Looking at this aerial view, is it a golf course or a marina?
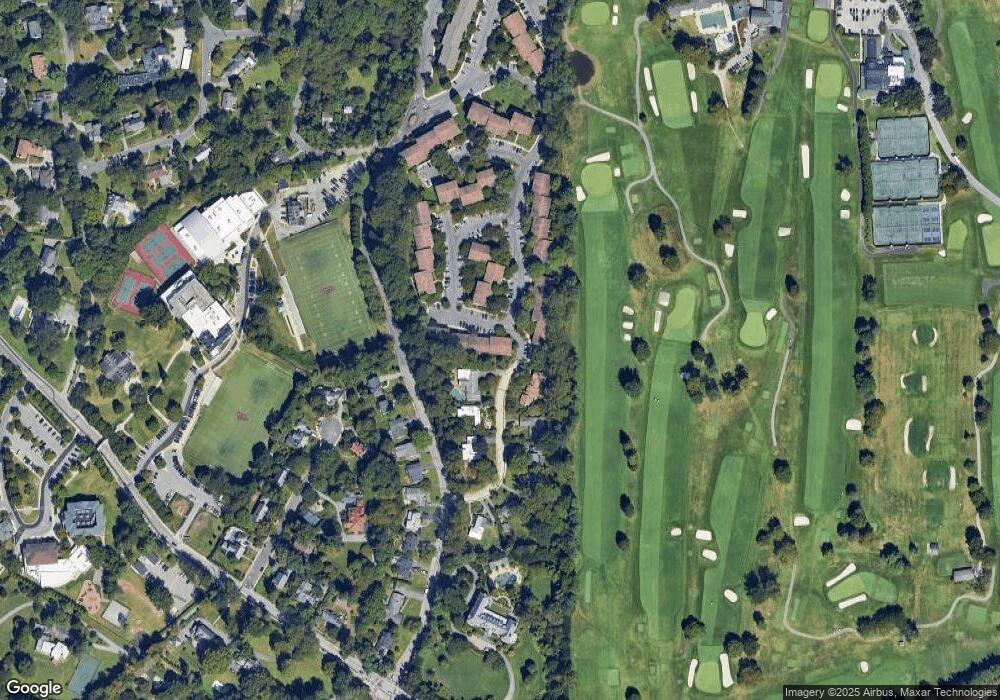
golf course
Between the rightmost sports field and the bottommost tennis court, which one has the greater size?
the sports field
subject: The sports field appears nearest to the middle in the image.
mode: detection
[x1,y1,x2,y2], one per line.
[280,222,372,349]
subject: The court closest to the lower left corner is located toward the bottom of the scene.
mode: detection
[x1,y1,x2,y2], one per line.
[68,655,100,693]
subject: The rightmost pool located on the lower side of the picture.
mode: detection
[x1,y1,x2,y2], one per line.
[495,573,518,586]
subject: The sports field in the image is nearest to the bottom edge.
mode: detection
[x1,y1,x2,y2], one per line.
[184,350,293,475]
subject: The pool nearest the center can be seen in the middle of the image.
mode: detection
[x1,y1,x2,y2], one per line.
[451,387,466,402]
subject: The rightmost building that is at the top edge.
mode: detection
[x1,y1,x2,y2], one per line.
[865,34,905,91]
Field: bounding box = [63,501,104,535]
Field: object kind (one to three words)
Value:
building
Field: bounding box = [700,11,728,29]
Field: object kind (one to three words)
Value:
swimming pool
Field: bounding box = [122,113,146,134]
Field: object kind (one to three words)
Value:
house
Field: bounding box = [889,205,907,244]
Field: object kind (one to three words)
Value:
tennis court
